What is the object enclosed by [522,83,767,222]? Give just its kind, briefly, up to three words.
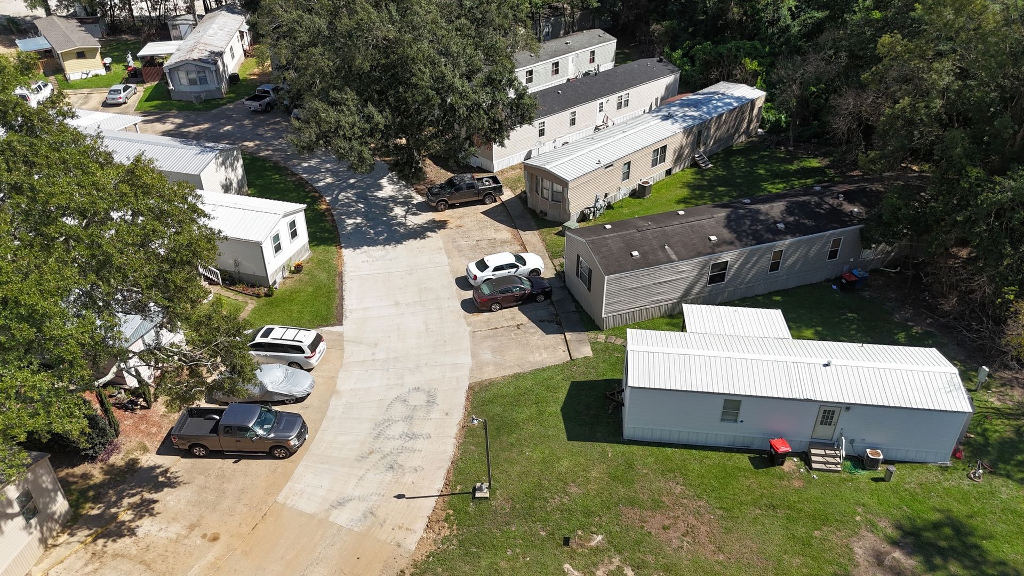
house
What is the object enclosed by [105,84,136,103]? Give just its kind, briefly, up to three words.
car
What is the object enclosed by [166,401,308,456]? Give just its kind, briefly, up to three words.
truck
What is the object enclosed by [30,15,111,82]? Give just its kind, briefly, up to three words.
house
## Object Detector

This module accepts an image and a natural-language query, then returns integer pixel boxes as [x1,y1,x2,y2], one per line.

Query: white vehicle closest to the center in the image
[465,248,547,282]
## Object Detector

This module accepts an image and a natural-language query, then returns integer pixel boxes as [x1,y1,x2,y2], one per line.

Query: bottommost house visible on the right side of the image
[599,326,977,463]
